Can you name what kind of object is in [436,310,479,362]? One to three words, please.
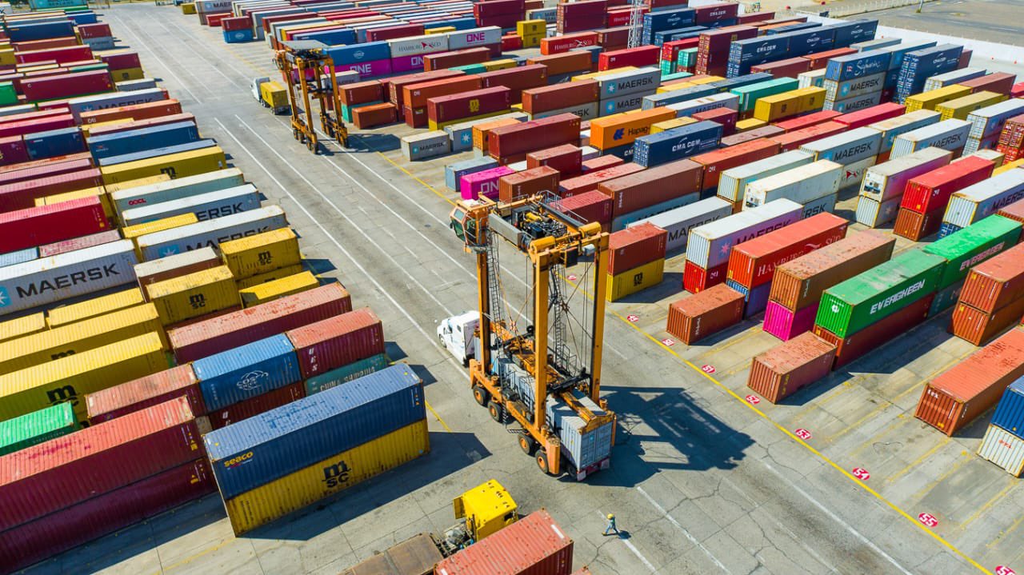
truck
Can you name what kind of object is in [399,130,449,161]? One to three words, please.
shipping container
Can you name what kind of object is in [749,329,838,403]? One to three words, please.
shipping container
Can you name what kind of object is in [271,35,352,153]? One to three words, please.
work vehicle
